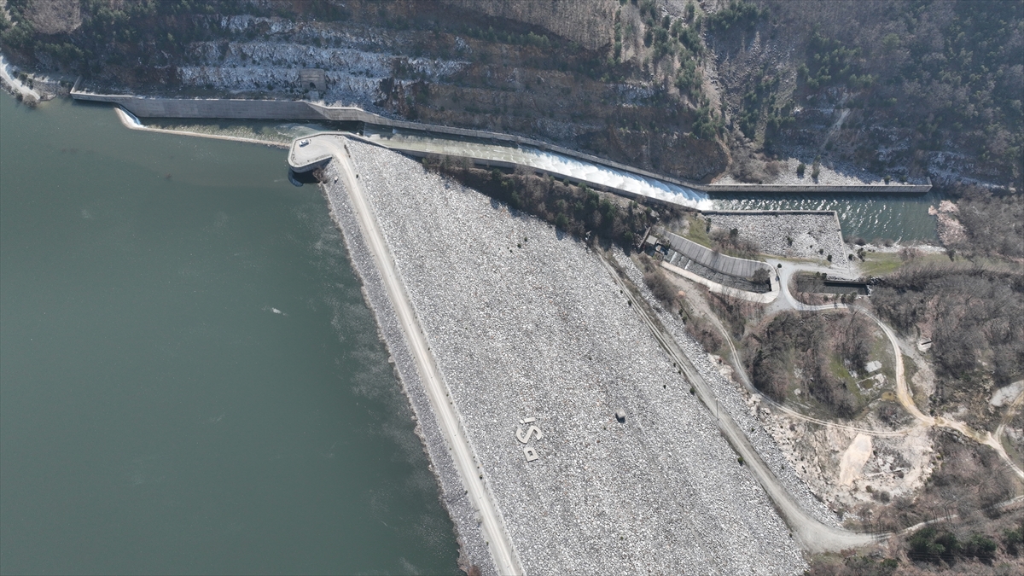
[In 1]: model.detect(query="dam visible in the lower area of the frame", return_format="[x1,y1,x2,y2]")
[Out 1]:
[321,136,820,576]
